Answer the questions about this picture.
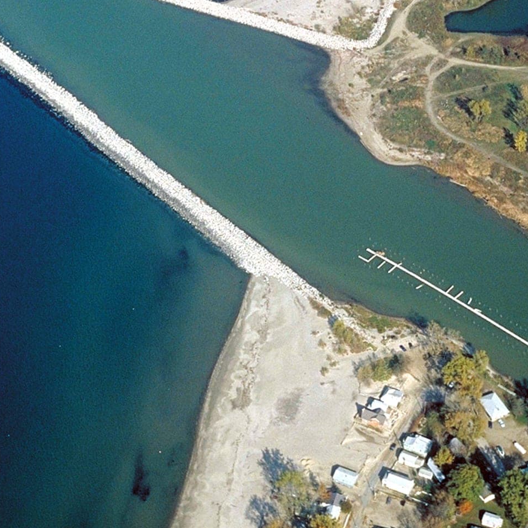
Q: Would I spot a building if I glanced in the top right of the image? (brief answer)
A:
No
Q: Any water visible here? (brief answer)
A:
Yes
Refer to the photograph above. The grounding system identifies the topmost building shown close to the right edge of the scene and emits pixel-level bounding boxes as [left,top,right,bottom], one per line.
[480,392,509,425]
